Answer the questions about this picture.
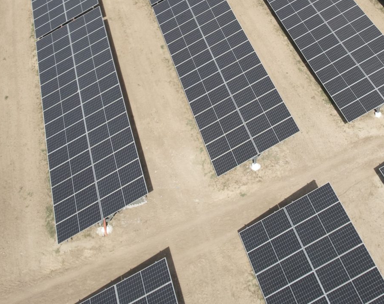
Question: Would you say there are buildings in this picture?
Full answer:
No, there's no building here.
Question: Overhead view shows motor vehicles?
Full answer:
No, I can see no motor vehicle in this picture.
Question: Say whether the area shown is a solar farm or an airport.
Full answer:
The area seen from above is a solar farm.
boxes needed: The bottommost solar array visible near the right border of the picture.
[239,183,384,304]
